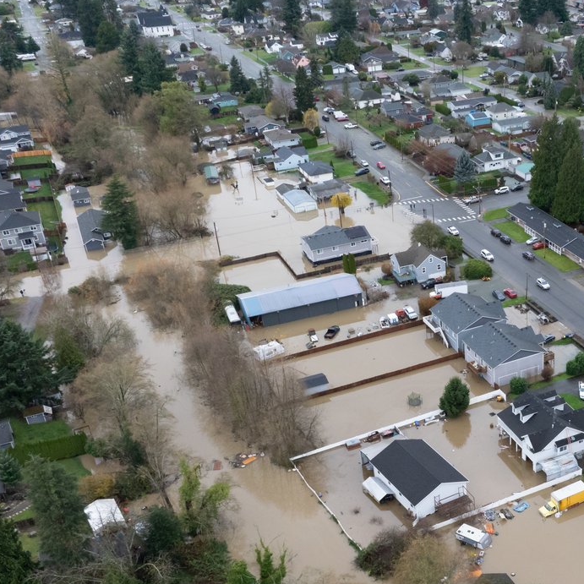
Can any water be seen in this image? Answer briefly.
Yes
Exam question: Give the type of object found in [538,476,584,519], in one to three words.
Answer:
truck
